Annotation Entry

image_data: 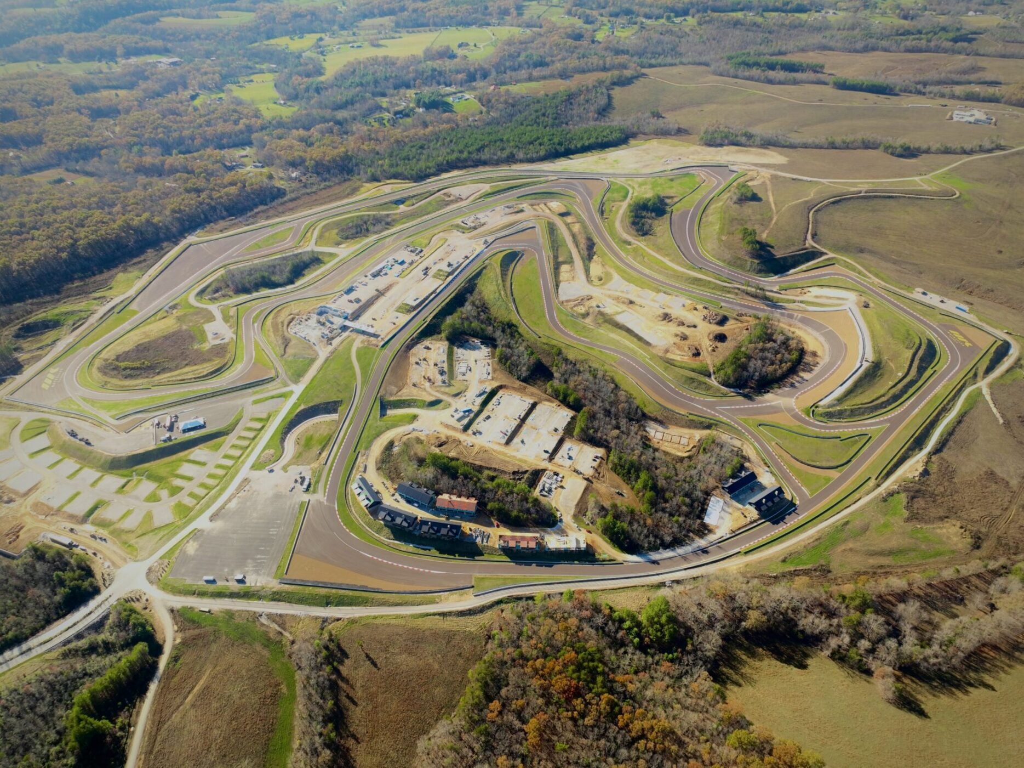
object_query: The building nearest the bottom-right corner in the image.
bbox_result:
[747,486,789,519]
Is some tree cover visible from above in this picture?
Yes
